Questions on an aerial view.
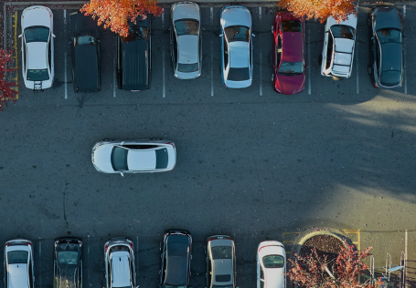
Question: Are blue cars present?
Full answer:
Yes, this view includes a blue car.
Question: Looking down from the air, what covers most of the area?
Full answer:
The bulk of the photo consists of paved ground.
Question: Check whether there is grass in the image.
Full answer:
No, grass can't be seen anywhere here.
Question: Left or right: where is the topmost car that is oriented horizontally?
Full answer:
It is on the left.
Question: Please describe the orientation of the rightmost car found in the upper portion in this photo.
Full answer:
Seen from above, the rightmost car found in the upper portion lies vertically.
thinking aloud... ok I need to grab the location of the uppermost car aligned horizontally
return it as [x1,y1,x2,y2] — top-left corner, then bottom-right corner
[92,137,177,177]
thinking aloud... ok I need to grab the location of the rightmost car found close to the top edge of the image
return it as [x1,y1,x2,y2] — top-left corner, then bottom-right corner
[367,4,408,89]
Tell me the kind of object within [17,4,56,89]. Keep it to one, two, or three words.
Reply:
car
